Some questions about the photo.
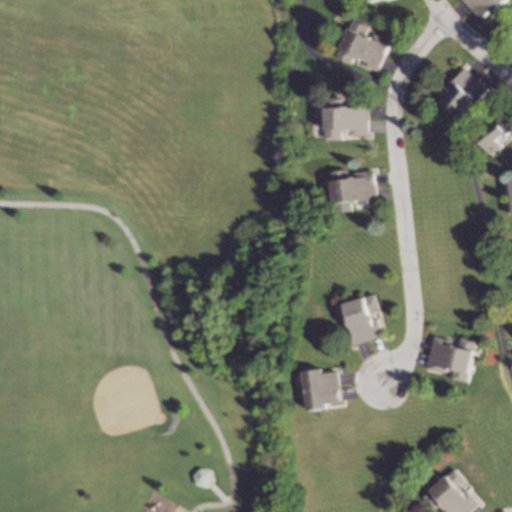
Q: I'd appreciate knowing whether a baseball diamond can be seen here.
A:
Yes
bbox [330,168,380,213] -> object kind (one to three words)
house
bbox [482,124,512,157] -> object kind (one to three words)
house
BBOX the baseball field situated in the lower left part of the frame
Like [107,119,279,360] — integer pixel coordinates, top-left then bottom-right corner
[94,366,166,436]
